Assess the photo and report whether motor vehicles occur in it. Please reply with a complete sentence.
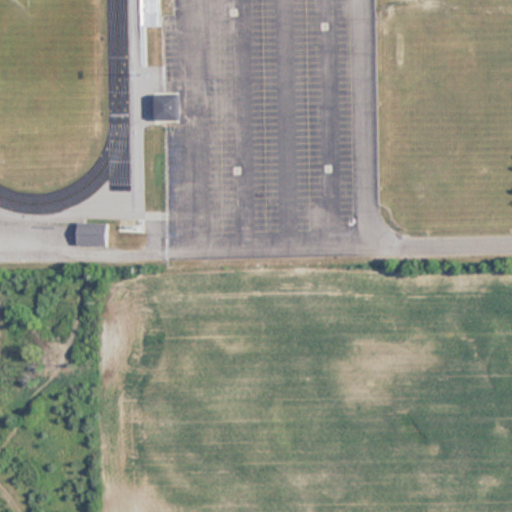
No, the picture doesn't show any motor vehicle.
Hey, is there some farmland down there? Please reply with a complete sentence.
Yes, some farmland is visible.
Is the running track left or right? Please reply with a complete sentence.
The running track appears in the left half of the scene.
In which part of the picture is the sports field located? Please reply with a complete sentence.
The sports field is located in the top left region of the scene.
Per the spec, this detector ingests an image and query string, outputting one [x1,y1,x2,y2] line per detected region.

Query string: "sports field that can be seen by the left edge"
[0,0,109,194]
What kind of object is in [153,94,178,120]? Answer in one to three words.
building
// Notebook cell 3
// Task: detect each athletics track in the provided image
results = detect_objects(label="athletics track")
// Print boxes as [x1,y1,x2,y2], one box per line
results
[0,0,130,214]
